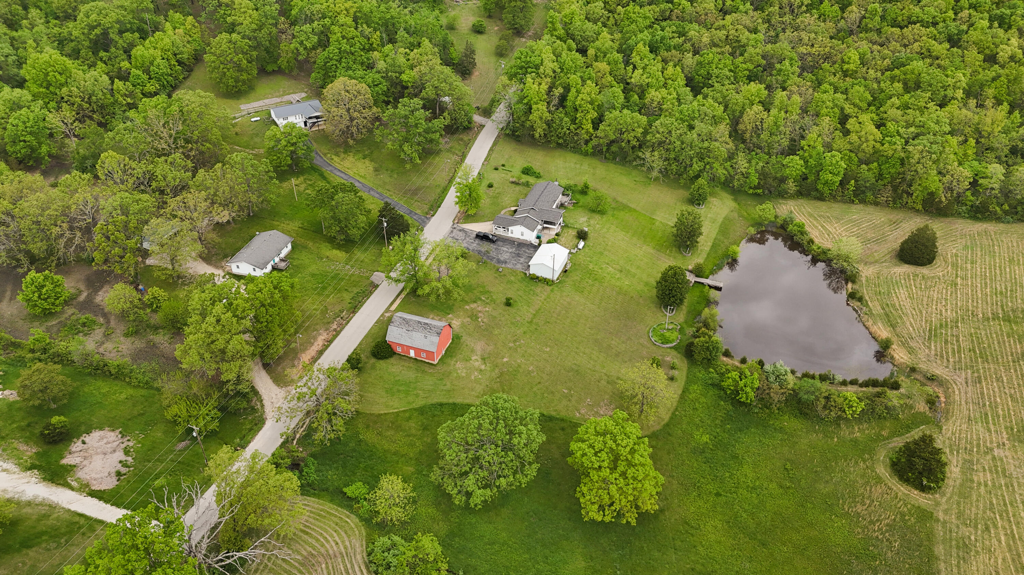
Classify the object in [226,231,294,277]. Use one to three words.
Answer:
house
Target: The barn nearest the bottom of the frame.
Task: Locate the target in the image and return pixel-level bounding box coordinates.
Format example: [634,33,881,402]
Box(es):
[386,311,453,364]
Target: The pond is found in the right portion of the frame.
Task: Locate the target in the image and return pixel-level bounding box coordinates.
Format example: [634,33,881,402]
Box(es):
[715,229,895,381]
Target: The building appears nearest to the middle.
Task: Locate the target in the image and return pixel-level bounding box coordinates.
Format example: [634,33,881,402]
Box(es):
[529,243,569,280]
